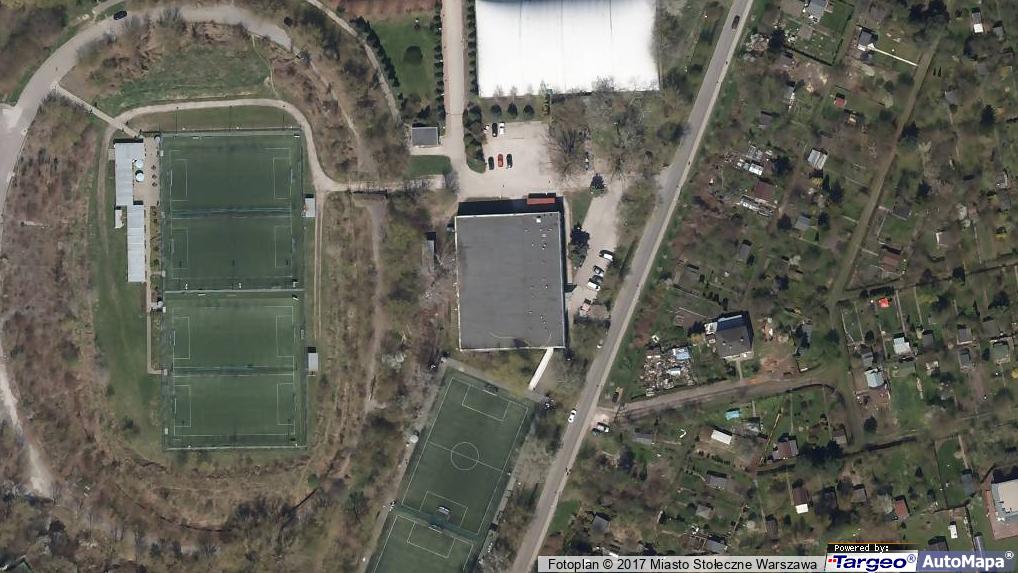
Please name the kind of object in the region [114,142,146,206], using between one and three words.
building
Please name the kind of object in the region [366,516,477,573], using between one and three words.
soccer field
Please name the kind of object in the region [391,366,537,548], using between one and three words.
soccer field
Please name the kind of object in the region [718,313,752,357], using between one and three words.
house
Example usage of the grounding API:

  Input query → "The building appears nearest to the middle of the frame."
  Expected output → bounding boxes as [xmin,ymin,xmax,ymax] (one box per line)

[455,212,568,350]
